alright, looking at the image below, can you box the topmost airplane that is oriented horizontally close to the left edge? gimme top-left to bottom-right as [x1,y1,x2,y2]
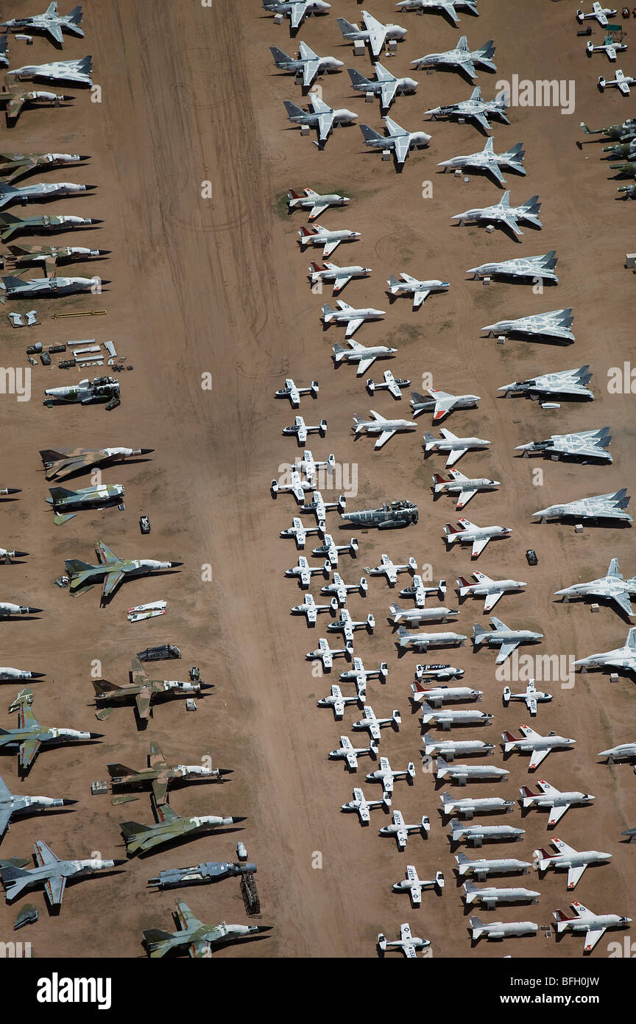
[0,6,85,44]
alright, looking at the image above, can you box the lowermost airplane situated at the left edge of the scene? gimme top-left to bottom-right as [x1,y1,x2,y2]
[0,837,127,902]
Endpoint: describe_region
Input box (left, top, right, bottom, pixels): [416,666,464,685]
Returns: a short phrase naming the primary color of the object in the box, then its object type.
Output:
white airplane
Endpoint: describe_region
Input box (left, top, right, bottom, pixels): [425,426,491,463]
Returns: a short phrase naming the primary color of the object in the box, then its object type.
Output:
white airplane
